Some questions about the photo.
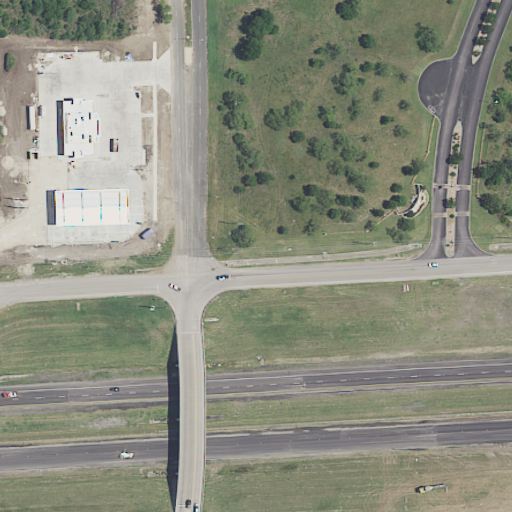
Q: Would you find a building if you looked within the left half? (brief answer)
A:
Yes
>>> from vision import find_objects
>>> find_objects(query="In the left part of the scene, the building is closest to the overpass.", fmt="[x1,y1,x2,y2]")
[54,190,128,226]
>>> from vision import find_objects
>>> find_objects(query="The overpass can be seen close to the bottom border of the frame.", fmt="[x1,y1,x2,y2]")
[176,321,206,512]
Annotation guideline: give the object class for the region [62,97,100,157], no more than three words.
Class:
building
